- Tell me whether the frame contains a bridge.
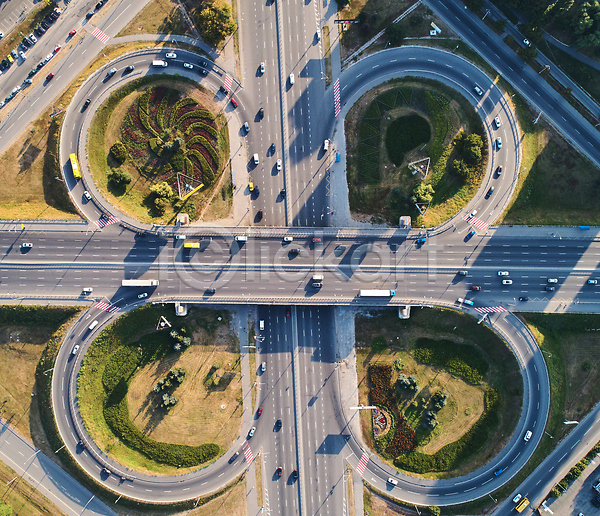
Yes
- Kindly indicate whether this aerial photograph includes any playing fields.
No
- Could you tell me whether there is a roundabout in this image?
No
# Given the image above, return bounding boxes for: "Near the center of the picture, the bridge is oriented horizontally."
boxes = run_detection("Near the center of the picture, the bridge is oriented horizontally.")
[156,225,434,306]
